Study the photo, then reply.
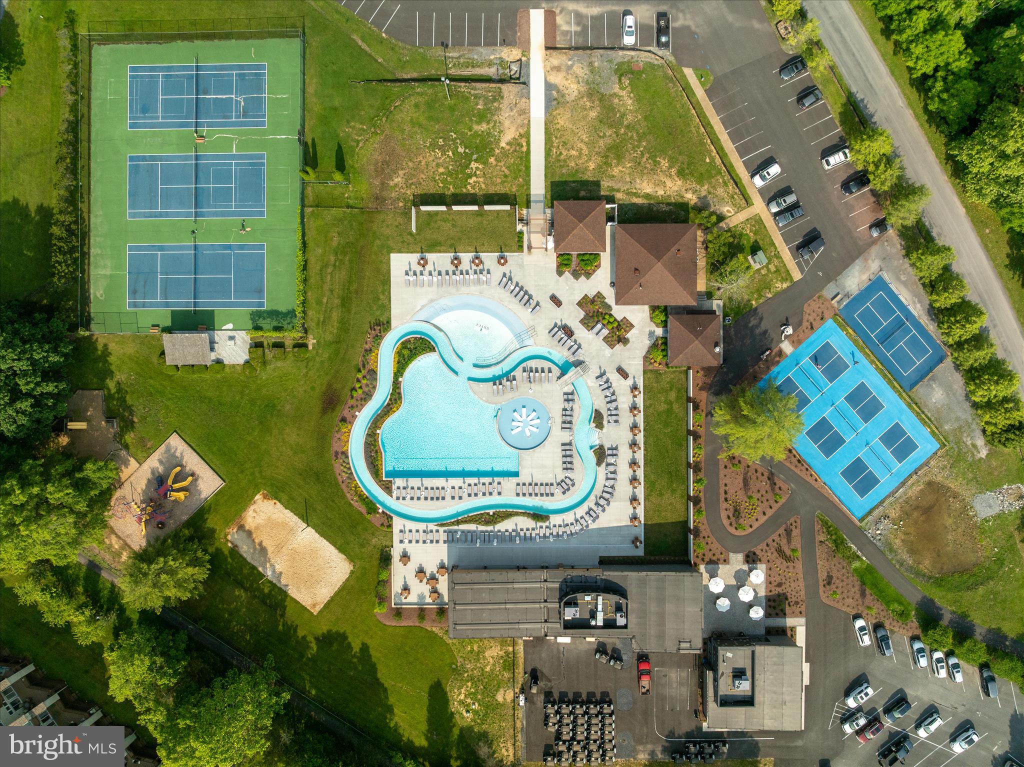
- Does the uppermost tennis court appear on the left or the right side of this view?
left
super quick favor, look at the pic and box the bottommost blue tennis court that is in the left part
[127,236,266,314]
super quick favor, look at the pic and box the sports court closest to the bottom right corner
[839,421,920,499]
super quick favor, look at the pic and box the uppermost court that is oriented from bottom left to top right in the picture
[770,340,851,416]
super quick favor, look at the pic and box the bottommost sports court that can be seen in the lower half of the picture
[226,491,353,614]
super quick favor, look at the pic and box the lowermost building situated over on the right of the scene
[703,632,803,732]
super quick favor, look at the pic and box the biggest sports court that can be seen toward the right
[839,275,947,391]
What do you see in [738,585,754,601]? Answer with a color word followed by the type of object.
white umbrella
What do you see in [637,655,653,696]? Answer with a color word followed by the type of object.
red vehicle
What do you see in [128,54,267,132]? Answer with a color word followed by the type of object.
blue tennis court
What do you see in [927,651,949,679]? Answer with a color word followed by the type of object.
white car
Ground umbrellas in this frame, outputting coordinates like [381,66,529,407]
[709,577,724,592]
[738,585,754,601]
[749,605,763,619]
[749,569,763,583]
[715,596,730,611]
